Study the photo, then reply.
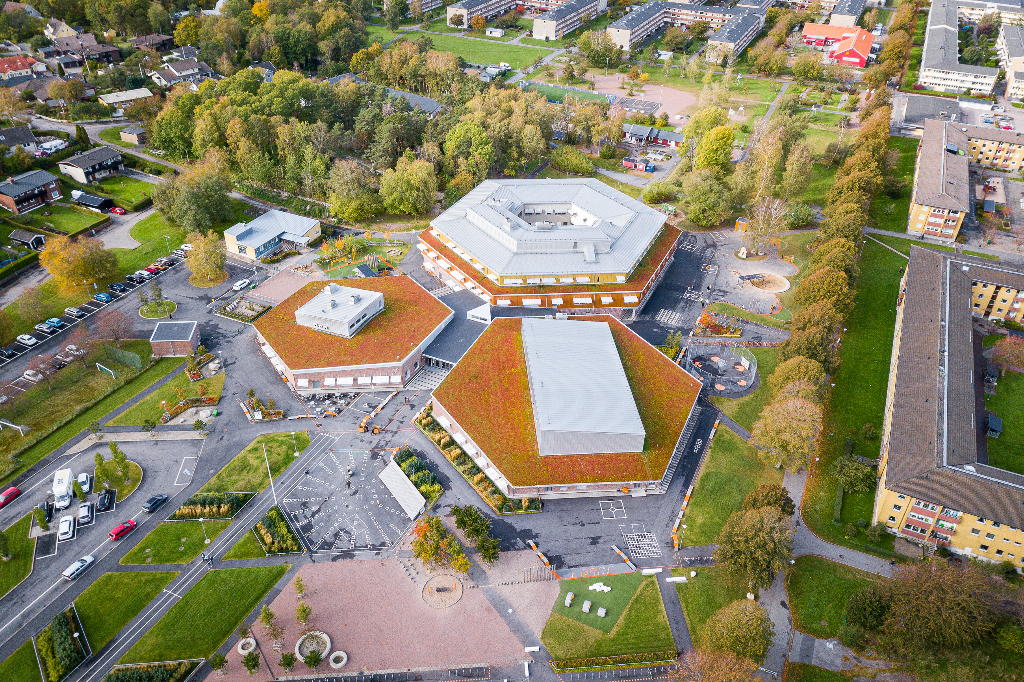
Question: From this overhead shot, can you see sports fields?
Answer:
Yes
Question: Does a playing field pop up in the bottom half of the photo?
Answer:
Yes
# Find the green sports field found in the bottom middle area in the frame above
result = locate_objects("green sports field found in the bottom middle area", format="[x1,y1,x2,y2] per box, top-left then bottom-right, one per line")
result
[552,571,643,633]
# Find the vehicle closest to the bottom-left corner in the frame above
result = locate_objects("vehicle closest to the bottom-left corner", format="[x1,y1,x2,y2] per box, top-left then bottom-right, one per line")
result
[59,556,95,582]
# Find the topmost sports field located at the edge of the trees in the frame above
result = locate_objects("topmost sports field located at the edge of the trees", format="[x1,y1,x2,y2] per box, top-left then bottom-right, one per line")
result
[558,69,697,126]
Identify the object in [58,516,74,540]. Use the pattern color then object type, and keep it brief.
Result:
white car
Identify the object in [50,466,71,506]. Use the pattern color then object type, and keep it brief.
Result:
white truck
